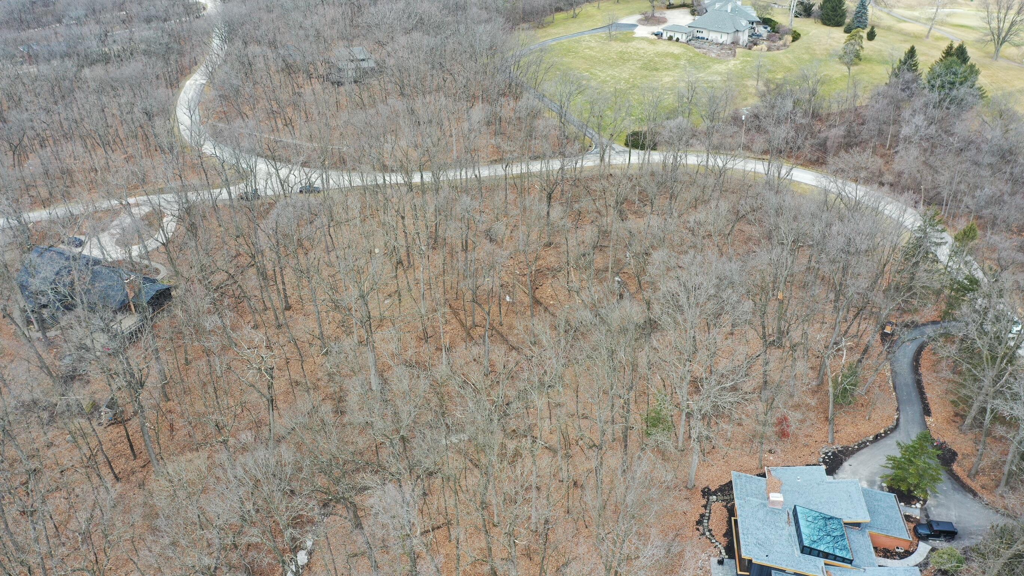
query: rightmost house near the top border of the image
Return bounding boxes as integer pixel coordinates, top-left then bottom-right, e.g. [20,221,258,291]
[663,0,781,44]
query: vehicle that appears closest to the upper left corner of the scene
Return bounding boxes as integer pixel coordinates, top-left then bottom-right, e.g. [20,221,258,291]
[60,232,87,245]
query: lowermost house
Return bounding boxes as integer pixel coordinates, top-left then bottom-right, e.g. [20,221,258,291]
[728,466,921,576]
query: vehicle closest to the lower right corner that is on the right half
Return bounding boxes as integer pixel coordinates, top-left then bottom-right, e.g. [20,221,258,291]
[912,518,961,542]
